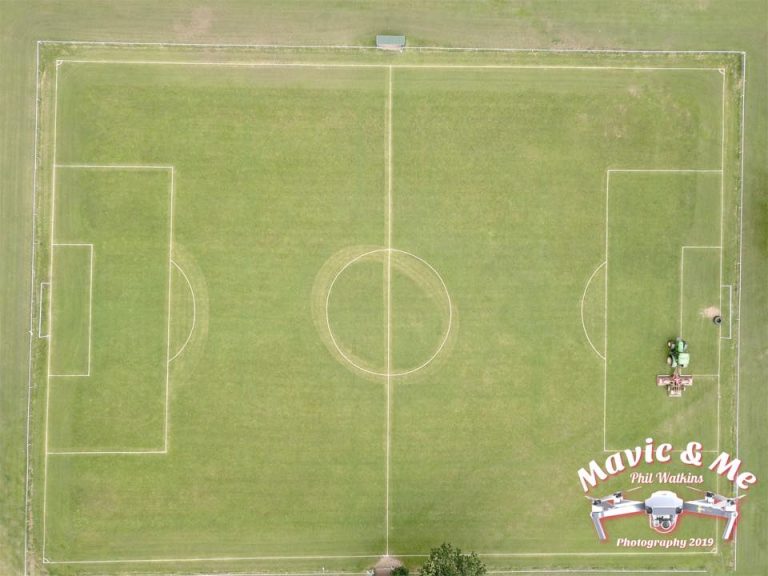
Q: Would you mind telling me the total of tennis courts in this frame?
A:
none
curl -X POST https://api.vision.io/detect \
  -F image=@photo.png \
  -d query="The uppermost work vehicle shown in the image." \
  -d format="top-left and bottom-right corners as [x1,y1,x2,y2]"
[667,335,689,367]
